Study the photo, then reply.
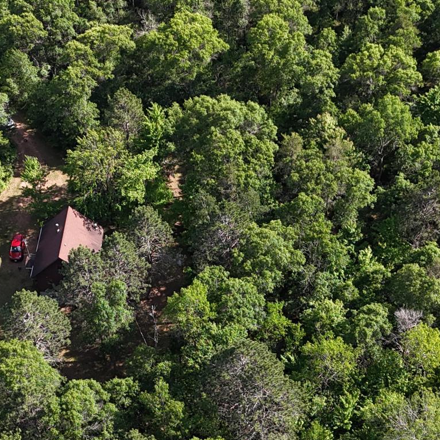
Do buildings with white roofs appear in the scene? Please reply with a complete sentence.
No, the frame has no building with a white roof in it.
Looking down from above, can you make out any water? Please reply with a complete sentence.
No, water can't be seen anywhere here.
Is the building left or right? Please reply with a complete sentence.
The building is on the left side of the image.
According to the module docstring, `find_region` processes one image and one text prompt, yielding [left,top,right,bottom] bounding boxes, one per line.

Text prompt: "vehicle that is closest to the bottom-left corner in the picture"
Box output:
[8,235,25,261]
